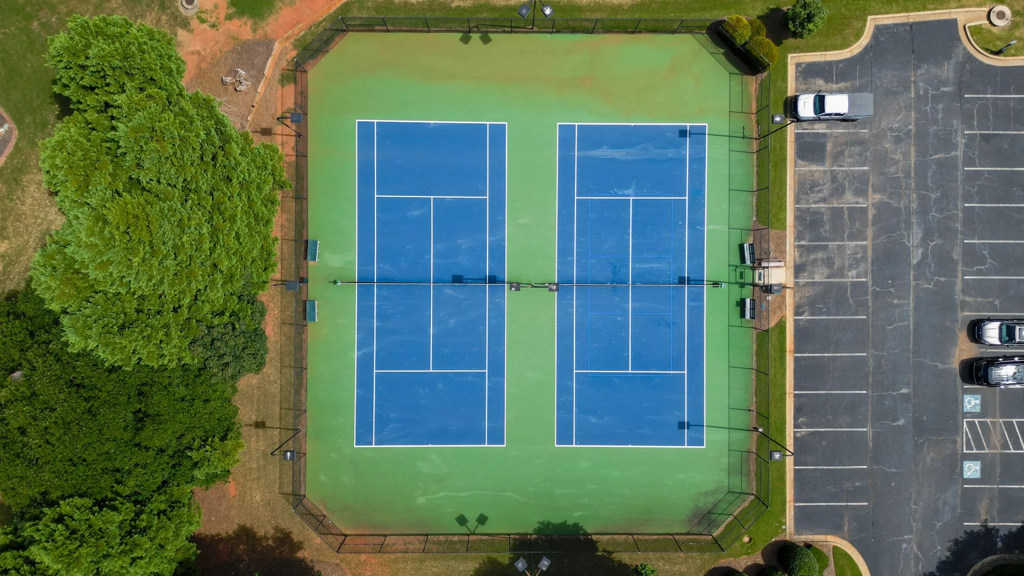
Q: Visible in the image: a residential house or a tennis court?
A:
tennis court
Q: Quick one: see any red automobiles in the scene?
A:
No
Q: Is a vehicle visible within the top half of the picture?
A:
Yes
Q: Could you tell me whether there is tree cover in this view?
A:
Yes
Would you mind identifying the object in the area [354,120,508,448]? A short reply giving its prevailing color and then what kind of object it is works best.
blue tennis court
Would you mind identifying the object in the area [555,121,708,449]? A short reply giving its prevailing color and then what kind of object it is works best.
blue tennis court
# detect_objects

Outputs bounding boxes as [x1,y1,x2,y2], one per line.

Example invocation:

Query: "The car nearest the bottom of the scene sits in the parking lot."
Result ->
[971,356,1024,386]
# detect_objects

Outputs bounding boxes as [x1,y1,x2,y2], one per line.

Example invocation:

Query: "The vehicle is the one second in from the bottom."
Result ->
[973,316,1024,349]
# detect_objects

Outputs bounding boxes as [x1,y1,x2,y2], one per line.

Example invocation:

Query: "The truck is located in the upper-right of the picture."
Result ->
[792,88,873,122]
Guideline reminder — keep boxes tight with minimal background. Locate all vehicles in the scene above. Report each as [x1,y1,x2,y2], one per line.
[792,88,873,122]
[973,316,1024,349]
[971,356,1024,386]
